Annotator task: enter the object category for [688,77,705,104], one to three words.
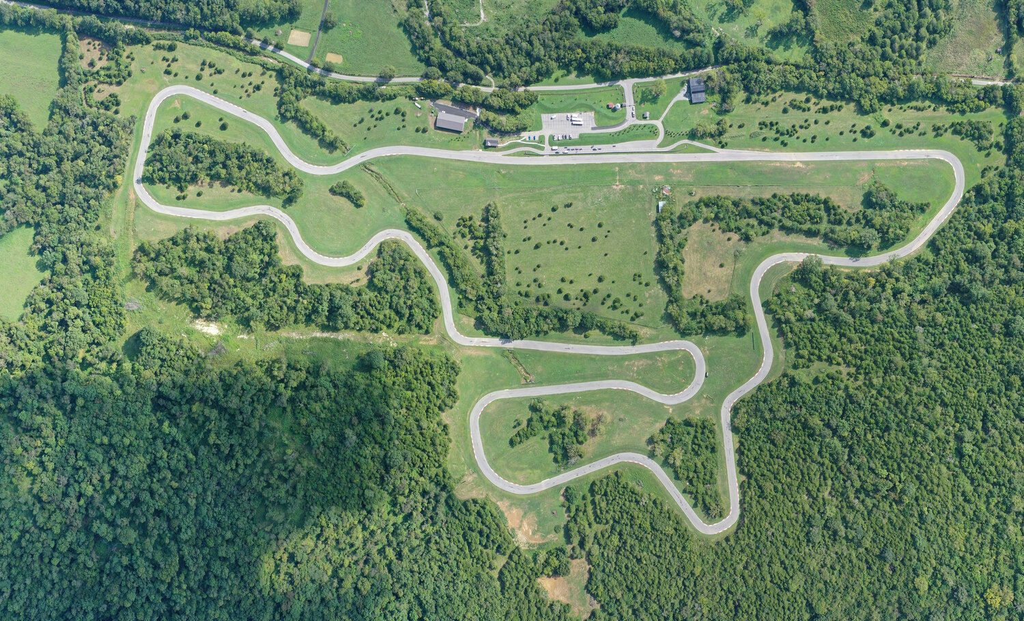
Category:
barn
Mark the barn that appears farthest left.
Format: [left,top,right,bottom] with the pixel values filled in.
[436,111,466,133]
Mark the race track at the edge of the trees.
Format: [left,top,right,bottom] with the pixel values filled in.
[133,85,965,534]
